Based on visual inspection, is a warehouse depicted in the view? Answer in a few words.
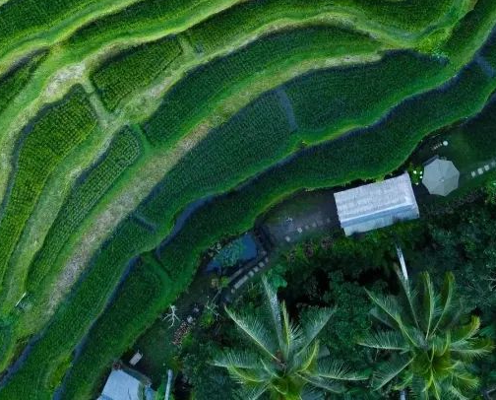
No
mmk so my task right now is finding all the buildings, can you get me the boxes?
[334,169,420,237]
[94,365,156,400]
